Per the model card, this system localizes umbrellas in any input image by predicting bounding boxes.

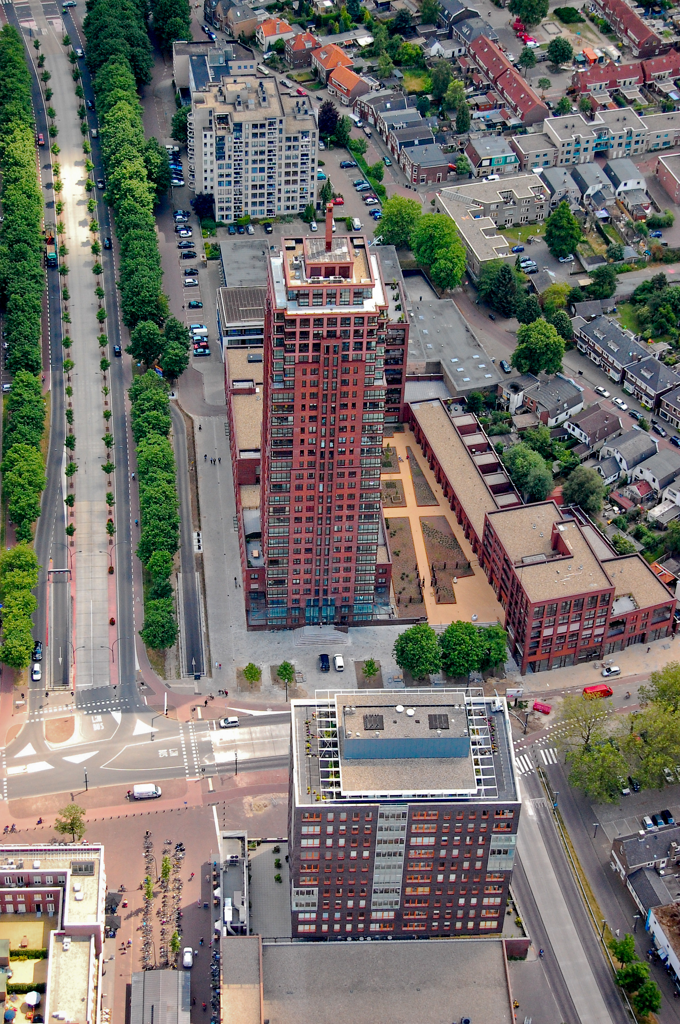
[105,913,124,931]
[105,891,125,908]
[211,888,220,898]
[5,1010,16,1022]
[212,921,220,931]
[32,1015,44,1024]
[25,991,41,1005]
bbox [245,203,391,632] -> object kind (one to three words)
building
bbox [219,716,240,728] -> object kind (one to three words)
vehicle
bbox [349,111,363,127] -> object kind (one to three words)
vehicle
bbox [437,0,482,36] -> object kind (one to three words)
house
